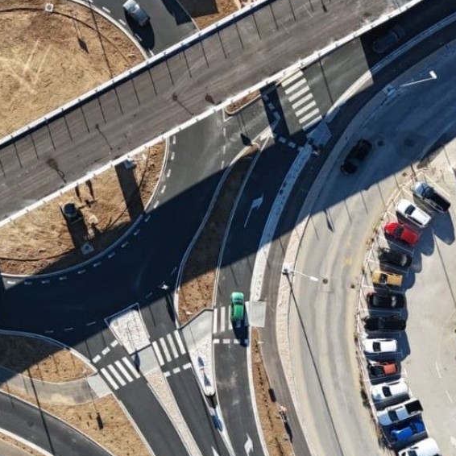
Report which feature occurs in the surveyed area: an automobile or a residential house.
automobile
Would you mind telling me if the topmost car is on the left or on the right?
left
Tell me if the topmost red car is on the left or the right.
right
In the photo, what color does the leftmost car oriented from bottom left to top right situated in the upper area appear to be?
black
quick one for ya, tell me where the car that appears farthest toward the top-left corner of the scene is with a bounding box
[123,0,150,28]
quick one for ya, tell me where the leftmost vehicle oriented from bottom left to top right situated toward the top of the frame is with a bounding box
[337,138,373,174]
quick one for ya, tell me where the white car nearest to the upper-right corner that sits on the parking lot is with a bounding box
[394,198,432,227]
